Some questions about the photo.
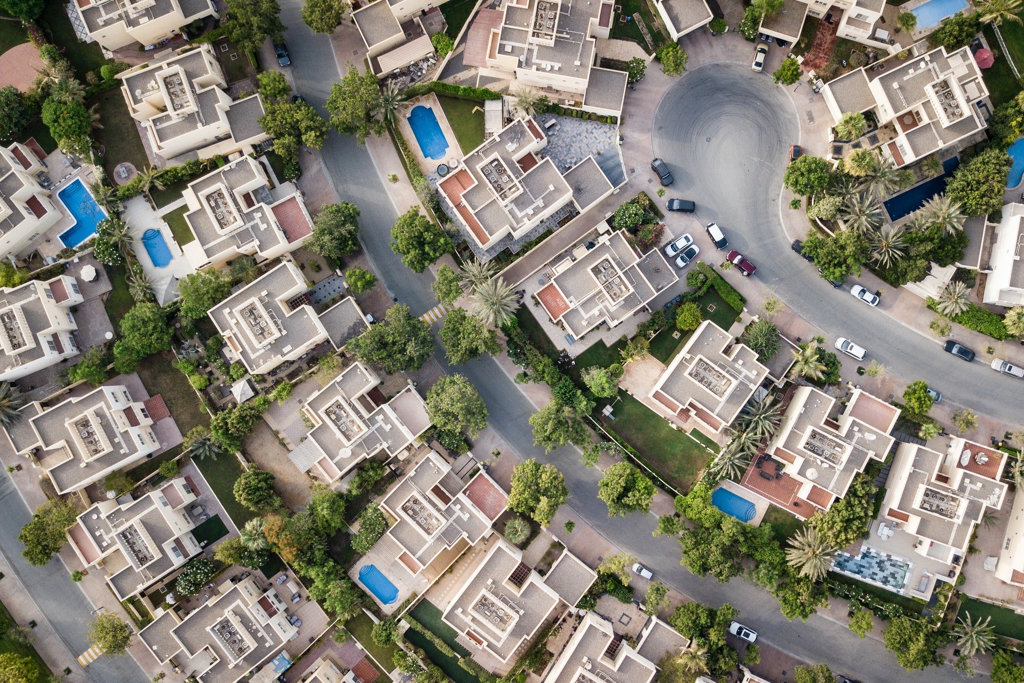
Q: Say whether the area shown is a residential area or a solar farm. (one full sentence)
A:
This image shows a residential area.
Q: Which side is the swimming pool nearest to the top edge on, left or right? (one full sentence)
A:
The swimming pool nearest to the top edge appears in the right half of the scene.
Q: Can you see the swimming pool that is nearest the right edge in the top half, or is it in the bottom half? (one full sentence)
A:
The swimming pool that is nearest the right edge is in the top half of the image.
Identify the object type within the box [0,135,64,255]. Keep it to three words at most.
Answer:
house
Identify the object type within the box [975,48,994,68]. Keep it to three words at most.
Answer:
umbrella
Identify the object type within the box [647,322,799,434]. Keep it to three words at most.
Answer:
house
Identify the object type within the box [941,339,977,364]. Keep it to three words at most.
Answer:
car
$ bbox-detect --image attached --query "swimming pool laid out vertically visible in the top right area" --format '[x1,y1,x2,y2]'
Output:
[1002,132,1024,194]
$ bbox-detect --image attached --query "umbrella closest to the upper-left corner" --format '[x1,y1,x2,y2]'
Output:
[80,265,99,281]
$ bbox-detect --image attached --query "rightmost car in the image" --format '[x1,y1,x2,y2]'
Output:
[989,358,1024,380]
